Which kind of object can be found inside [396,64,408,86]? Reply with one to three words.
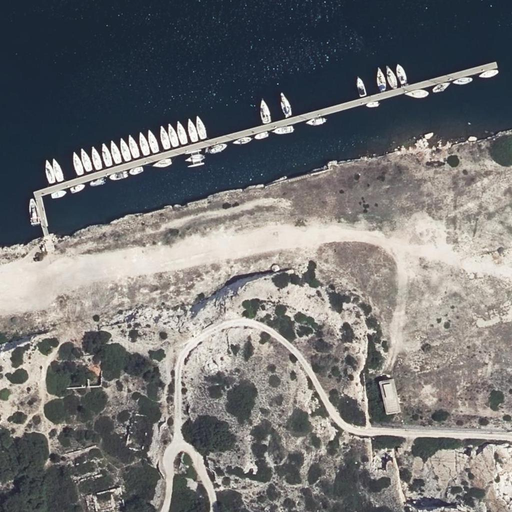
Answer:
boat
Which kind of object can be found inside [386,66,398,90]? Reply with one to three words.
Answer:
boat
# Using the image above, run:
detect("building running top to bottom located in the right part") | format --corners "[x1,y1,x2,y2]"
[380,380,402,416]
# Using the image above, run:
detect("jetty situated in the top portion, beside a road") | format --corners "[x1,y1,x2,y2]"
[32,62,498,239]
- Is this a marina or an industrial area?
marina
